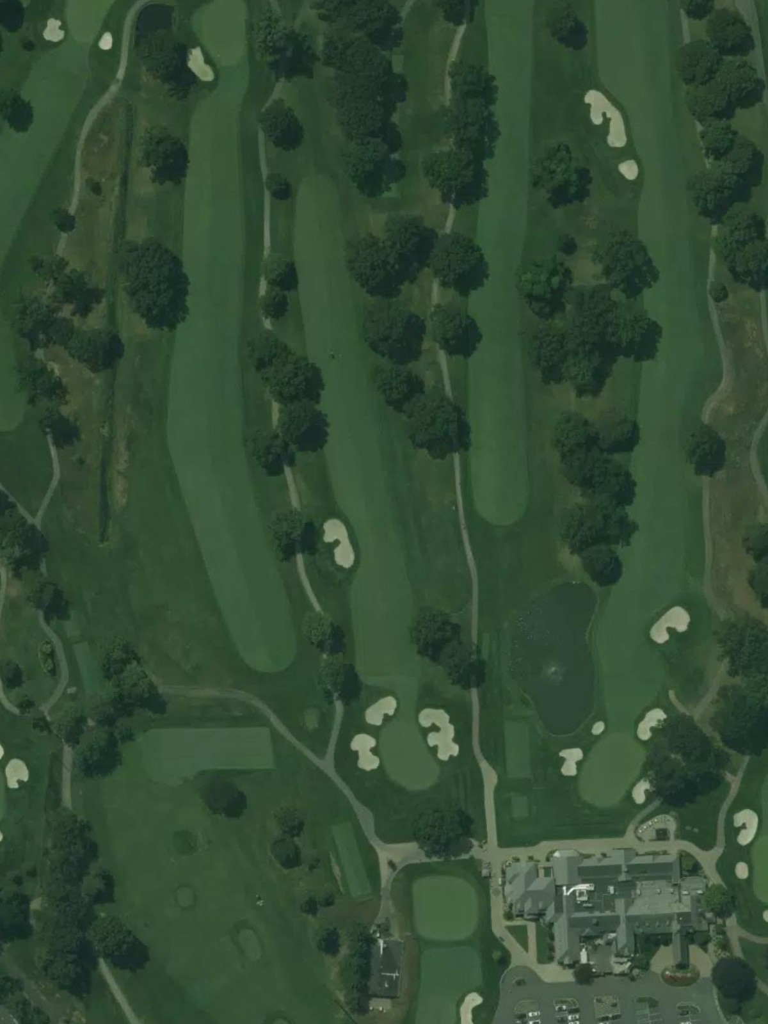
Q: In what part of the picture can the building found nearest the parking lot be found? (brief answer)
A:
bottom right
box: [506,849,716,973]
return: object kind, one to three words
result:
building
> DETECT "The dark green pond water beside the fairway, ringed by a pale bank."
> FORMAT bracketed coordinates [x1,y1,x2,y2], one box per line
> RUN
[511,583,596,735]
